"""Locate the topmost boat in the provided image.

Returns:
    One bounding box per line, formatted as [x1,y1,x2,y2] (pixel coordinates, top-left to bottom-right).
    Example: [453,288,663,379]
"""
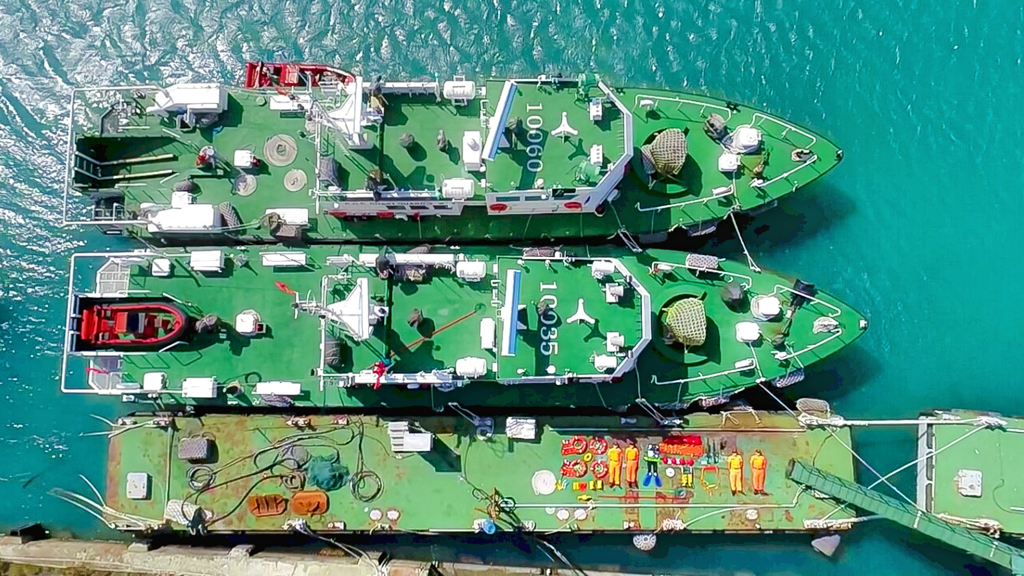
[238,55,355,88]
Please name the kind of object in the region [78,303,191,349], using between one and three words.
boat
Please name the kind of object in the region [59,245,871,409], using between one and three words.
boat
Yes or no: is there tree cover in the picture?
No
